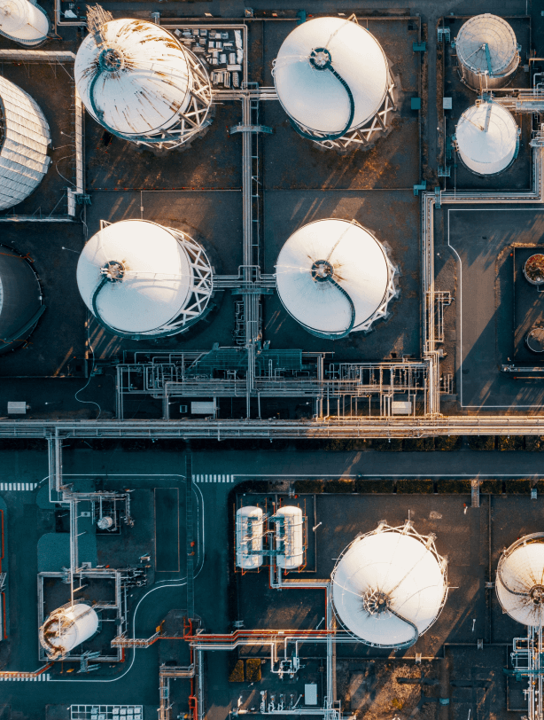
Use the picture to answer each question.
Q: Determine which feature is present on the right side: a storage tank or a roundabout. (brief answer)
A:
storage tank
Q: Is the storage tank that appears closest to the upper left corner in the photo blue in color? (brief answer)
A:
No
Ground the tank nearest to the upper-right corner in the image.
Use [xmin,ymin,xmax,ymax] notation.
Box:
[455,12,520,92]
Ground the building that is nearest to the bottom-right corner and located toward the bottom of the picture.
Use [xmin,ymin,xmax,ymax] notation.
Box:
[305,681,320,705]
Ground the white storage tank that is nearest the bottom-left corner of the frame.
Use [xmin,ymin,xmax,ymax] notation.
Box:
[33,602,101,658]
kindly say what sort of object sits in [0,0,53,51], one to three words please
storage tank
